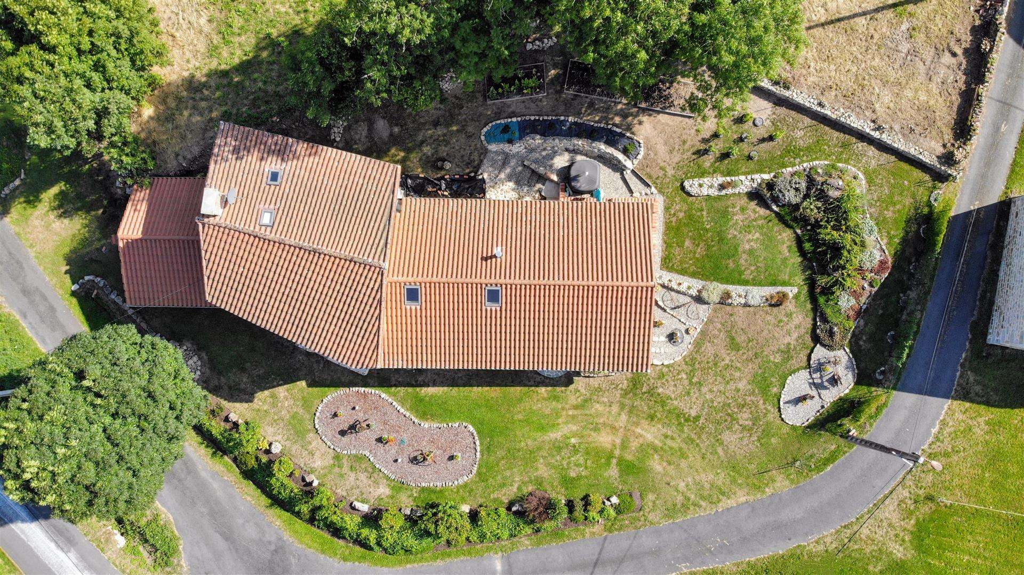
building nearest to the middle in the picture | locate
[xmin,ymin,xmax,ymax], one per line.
[381,196,660,374]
